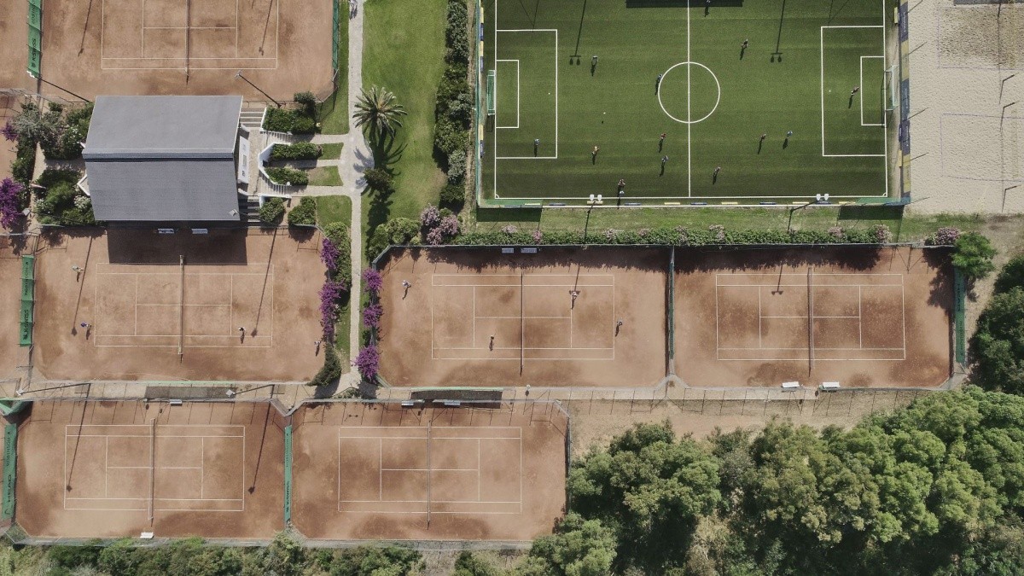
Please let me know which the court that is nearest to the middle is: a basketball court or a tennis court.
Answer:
tennis court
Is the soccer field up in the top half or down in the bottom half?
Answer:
top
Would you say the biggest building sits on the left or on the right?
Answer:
left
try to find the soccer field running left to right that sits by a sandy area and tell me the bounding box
[477,0,899,205]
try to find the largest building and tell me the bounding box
[82,94,252,221]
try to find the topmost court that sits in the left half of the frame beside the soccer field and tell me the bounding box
[40,0,339,100]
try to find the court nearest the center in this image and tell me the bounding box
[375,249,669,388]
